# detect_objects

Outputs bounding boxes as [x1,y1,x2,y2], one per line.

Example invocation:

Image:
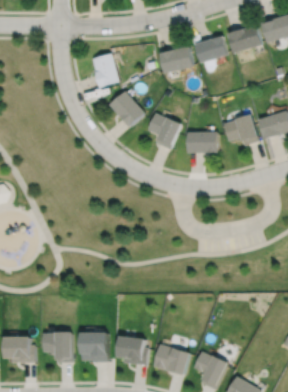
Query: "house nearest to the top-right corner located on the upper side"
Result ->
[260,14,288,43]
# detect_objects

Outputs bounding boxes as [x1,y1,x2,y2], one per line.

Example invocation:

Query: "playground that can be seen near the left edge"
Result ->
[0,206,44,272]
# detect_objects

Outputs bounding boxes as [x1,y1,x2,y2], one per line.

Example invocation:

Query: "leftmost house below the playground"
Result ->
[0,337,36,364]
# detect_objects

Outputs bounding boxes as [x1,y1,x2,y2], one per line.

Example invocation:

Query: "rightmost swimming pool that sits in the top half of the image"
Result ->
[186,75,202,91]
